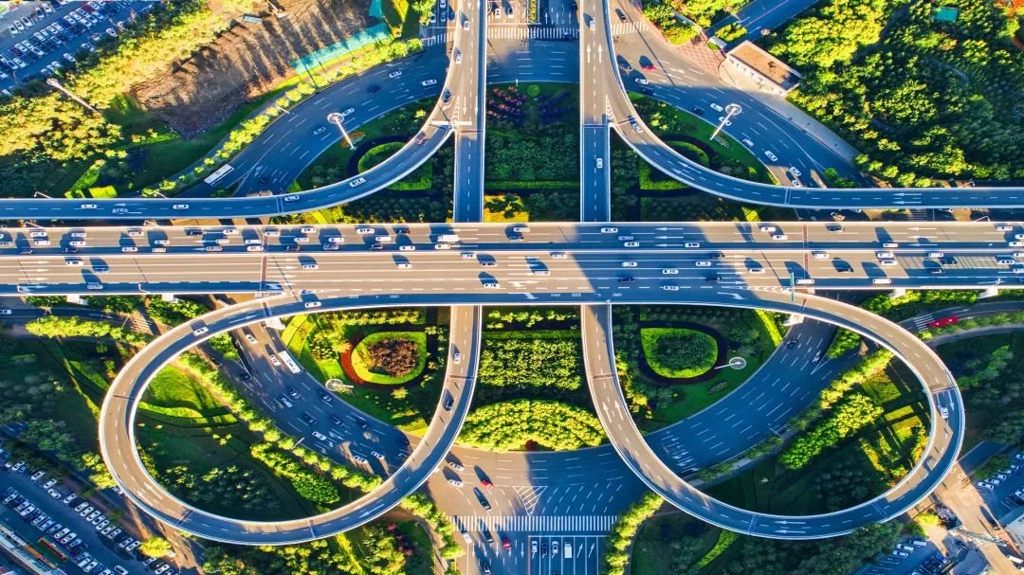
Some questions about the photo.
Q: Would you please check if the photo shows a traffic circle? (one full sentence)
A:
No, there is no traffic circle in the image.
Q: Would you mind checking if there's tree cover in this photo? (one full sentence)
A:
Yes, the picture does contain tree cover.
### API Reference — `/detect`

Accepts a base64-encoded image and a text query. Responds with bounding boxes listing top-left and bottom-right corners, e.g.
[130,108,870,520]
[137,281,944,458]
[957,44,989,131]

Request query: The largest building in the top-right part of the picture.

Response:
[722,39,803,101]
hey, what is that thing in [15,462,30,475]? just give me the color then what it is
blue vehicle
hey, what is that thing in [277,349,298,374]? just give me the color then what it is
white bus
